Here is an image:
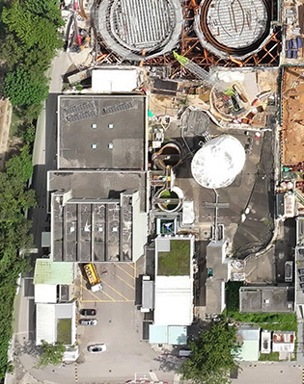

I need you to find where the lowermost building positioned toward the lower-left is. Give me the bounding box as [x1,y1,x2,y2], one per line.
[35,297,82,358]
